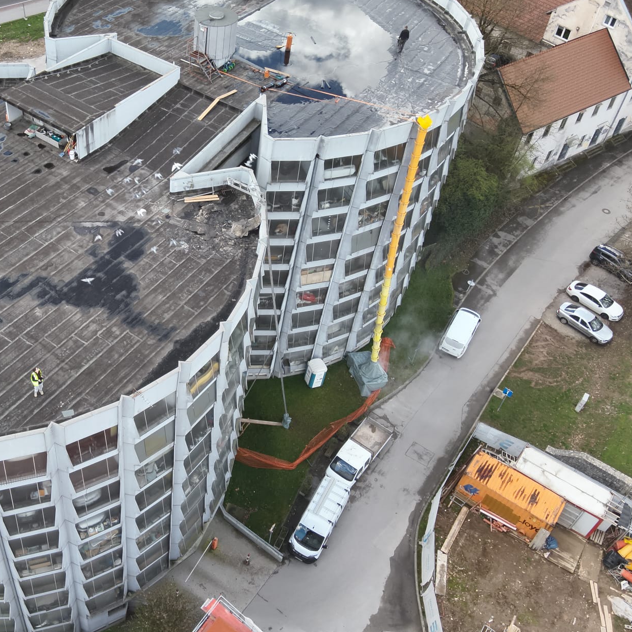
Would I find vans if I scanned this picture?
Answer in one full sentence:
Yes, this view includes a van.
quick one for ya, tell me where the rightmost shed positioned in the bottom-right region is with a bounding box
[514,449,613,537]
